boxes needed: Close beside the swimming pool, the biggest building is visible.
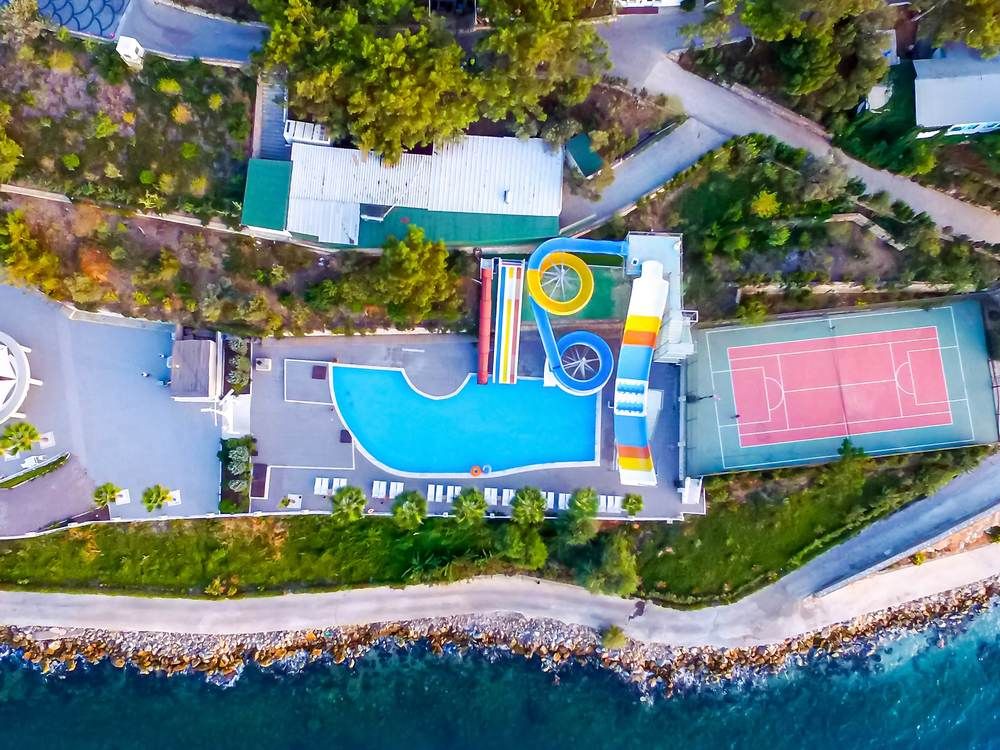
[287,138,562,250]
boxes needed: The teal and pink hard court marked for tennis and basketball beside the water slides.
[690,298,999,476]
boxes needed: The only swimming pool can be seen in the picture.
[327,360,613,479]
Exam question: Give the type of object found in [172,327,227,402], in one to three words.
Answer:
shed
